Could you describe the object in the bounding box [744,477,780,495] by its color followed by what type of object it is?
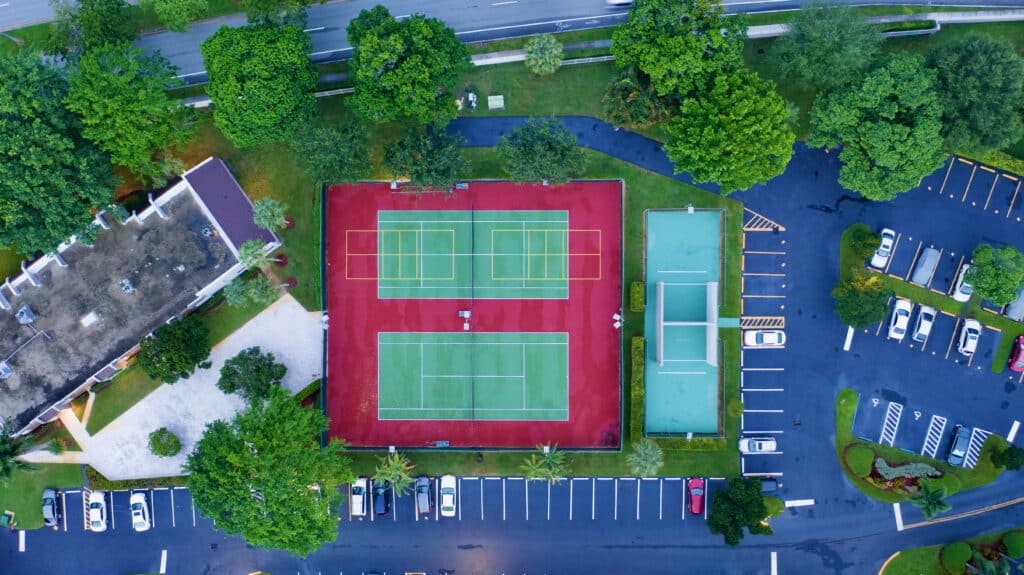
blue car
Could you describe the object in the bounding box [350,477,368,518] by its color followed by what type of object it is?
white car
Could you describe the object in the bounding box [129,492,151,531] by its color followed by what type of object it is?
white car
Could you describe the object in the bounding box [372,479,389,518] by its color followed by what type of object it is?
blue car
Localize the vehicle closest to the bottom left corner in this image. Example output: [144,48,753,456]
[39,488,61,527]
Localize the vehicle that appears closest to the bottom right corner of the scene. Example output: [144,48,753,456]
[946,425,972,466]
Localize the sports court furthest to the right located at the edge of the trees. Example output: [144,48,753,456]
[646,212,720,432]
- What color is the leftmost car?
blue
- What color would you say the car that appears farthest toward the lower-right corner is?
blue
